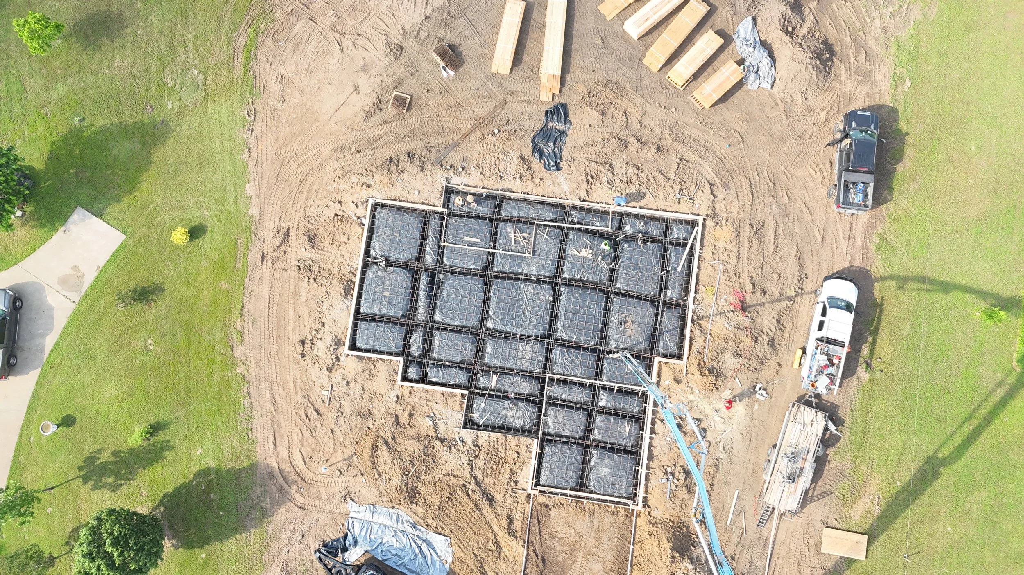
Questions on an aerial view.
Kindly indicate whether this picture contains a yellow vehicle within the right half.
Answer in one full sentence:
No, no yellow vehicle can be made out within the right half.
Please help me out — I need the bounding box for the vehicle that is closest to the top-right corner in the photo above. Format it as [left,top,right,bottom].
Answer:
[817,108,885,214]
